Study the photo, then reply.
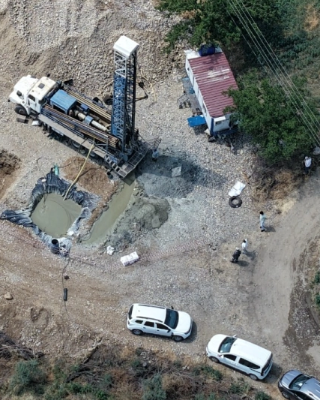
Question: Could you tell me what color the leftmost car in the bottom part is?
white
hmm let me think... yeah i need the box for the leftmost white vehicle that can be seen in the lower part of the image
[126,301,198,344]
